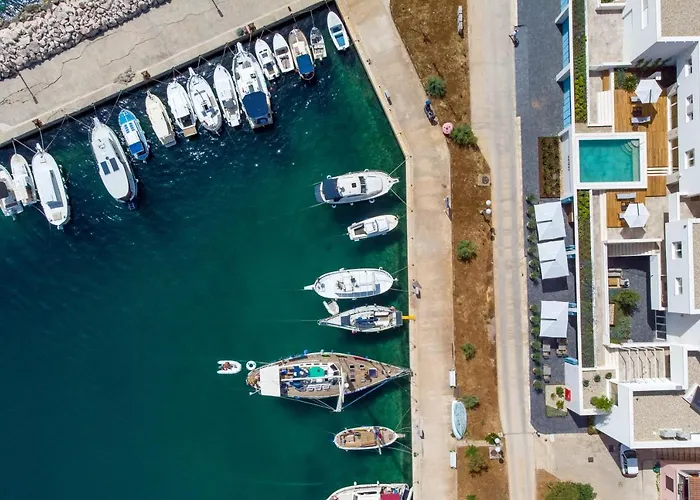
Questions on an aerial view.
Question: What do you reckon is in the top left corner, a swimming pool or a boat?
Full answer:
You can see a boat in the top left corner.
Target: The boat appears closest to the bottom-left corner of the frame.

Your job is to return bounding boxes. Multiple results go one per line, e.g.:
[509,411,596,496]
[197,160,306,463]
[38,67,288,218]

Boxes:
[217,360,243,374]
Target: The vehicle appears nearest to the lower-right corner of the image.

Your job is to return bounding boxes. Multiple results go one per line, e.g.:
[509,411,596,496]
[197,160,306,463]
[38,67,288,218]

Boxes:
[617,445,637,479]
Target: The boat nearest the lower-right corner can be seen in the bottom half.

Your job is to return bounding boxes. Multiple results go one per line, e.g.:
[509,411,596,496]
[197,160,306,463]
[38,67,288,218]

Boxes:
[453,402,469,443]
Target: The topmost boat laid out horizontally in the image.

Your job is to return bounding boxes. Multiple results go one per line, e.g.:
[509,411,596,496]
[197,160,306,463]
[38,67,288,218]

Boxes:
[313,168,401,207]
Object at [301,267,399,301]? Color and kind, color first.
white boat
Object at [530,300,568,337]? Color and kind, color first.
white umbrella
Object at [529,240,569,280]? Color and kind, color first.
white umbrella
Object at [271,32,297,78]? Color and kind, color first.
white boat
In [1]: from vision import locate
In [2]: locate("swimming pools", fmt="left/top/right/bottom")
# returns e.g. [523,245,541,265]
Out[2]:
[561,133,648,200]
